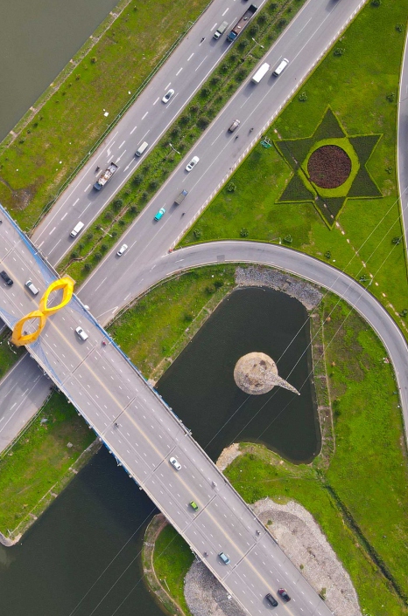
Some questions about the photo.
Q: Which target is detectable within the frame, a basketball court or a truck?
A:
truck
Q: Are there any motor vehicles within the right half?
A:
Yes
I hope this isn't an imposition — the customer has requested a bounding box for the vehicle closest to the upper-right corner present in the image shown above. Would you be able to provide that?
[273,57,290,77]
